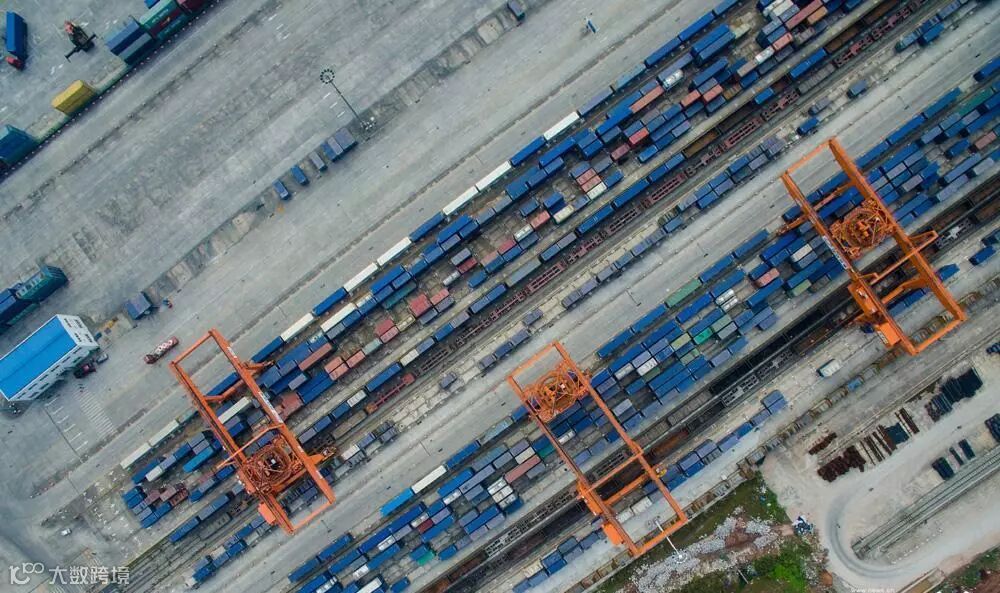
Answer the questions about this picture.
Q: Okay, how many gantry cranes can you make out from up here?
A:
three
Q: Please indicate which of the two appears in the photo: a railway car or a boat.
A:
railway car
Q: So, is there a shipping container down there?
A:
Yes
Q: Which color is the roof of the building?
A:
blue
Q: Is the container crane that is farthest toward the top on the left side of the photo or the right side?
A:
right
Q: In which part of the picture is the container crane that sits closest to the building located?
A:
bottom left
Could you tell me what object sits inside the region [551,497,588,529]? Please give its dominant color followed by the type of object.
black rail car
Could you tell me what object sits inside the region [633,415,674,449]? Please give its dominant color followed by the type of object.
gray rail car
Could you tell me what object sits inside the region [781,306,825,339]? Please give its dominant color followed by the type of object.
black rail car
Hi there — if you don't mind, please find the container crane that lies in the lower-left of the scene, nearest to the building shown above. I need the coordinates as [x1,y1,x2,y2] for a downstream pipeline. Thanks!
[167,331,341,535]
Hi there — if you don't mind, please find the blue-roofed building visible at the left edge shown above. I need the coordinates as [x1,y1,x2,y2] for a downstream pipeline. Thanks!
[0,316,97,400]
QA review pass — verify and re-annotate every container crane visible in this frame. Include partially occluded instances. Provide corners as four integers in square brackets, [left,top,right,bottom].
[506,342,687,556]
[778,139,967,356]
[167,331,341,535]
